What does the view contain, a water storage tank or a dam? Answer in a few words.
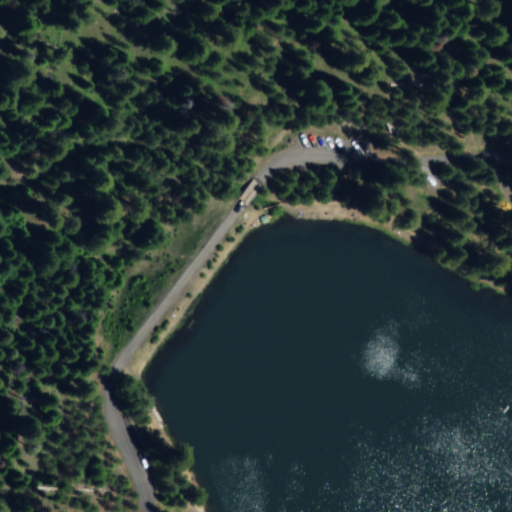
dam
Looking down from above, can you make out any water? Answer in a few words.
Yes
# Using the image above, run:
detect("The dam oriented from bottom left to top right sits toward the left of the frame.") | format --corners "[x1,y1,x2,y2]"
[104,200,256,385]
